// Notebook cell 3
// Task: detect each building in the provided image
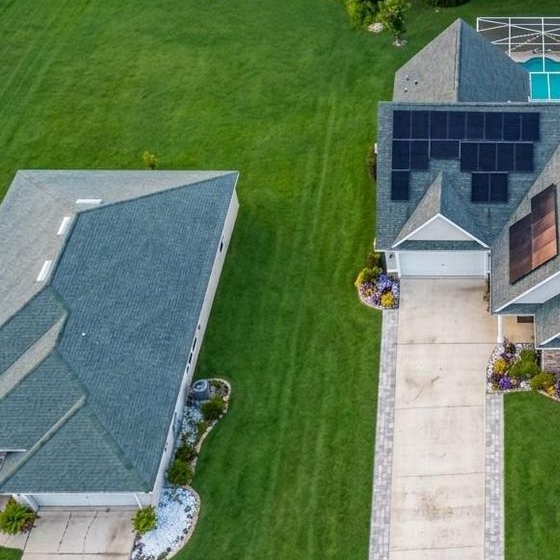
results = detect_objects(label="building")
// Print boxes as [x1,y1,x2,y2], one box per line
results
[373,17,560,373]
[0,169,240,508]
